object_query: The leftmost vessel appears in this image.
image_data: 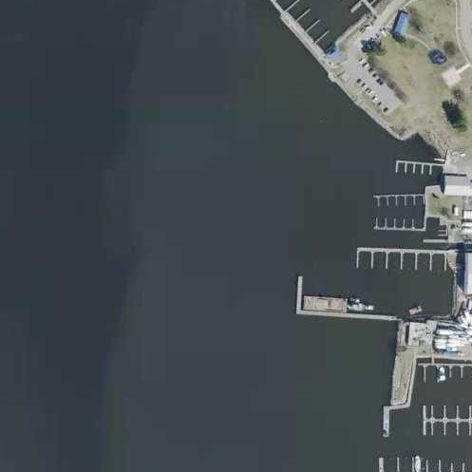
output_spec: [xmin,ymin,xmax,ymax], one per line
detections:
[304,296,347,312]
